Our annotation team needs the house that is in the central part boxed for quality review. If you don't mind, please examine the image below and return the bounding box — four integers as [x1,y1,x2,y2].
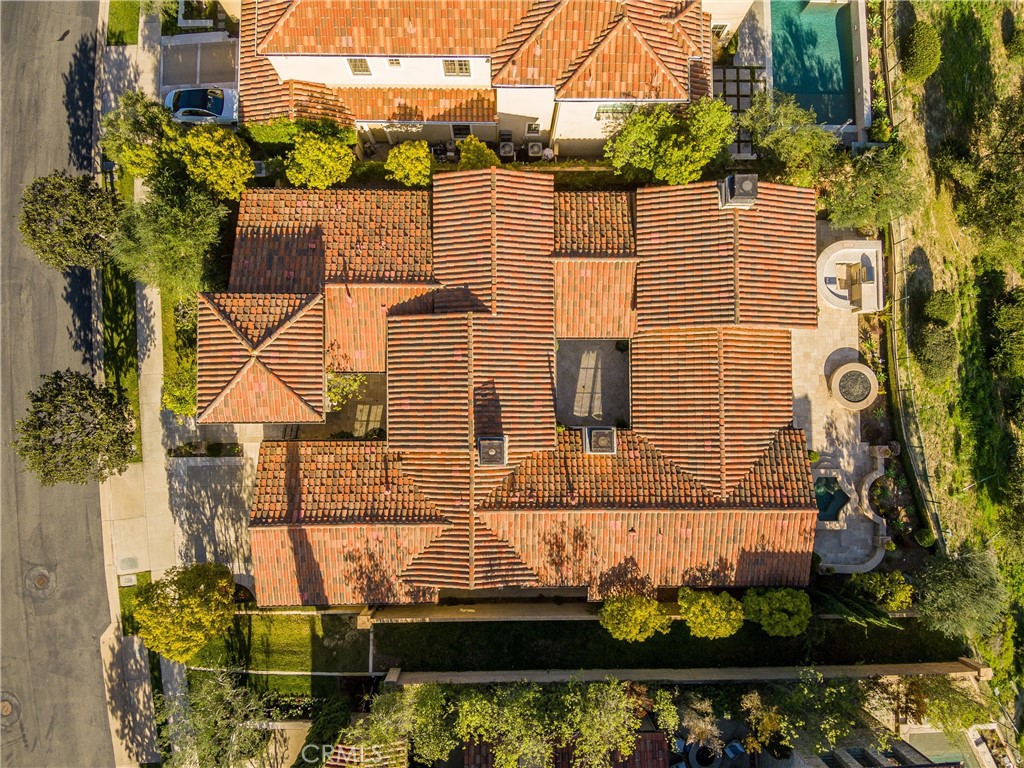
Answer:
[195,168,818,608]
